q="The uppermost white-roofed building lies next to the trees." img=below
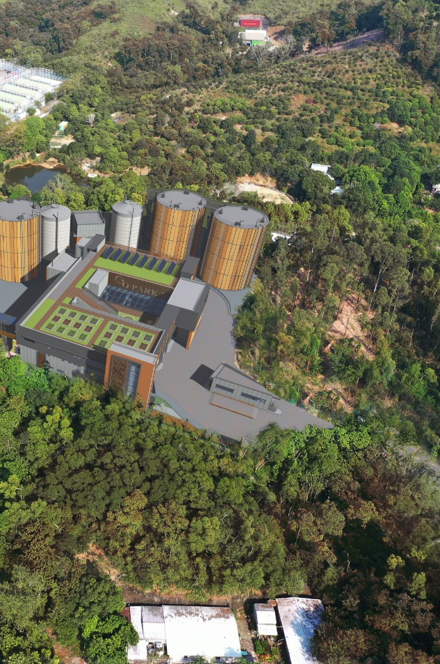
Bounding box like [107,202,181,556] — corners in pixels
[240,29,266,48]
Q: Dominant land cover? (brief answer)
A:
trees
